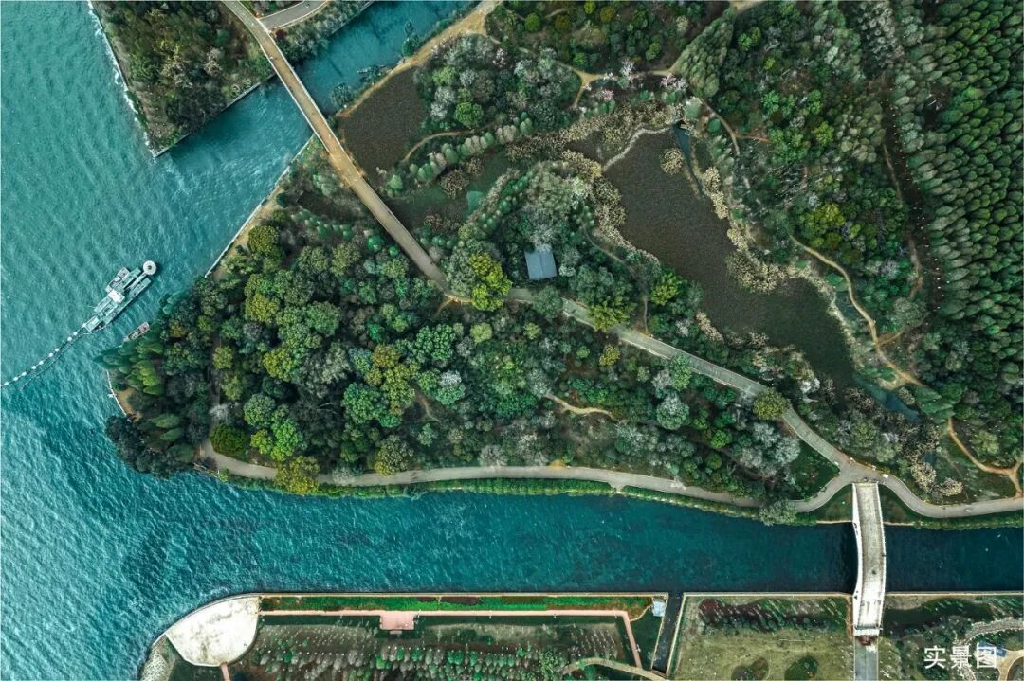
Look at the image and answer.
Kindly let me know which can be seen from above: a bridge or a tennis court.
bridge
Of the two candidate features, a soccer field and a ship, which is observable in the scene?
ship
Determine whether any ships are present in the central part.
No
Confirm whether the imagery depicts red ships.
No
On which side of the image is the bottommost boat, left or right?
left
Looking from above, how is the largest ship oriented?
diagonally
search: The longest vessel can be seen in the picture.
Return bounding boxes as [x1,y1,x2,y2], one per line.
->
[86,260,156,332]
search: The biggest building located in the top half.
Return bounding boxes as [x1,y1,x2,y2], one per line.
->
[525,246,558,280]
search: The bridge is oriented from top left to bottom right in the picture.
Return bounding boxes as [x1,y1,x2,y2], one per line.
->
[270,51,370,192]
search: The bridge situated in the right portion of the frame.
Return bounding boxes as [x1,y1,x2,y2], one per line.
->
[851,483,889,636]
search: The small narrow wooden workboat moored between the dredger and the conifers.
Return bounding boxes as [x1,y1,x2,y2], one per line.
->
[127,322,150,342]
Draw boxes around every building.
[525,246,558,280]
[653,601,667,619]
